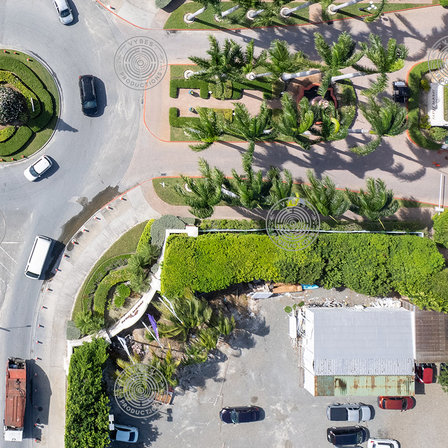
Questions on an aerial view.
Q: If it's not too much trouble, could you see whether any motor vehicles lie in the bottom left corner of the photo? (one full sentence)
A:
Yes, there is a motor vehicle in the bottom left corner of the photo.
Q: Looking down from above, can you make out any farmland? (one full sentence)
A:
No, there's no farmland in this view.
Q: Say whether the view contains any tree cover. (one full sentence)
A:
Yes, the picture does contain tree cover.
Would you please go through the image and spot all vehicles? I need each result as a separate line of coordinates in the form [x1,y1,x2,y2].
[391,81,409,102]
[52,0,73,26]
[220,405,261,426]
[325,402,372,424]
[325,425,368,447]
[78,74,99,116]
[4,360,27,446]
[415,362,436,388]
[367,436,398,448]
[376,396,413,413]
[23,152,53,184]
[23,234,52,280]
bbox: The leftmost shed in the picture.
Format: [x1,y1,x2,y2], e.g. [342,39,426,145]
[303,305,416,396]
